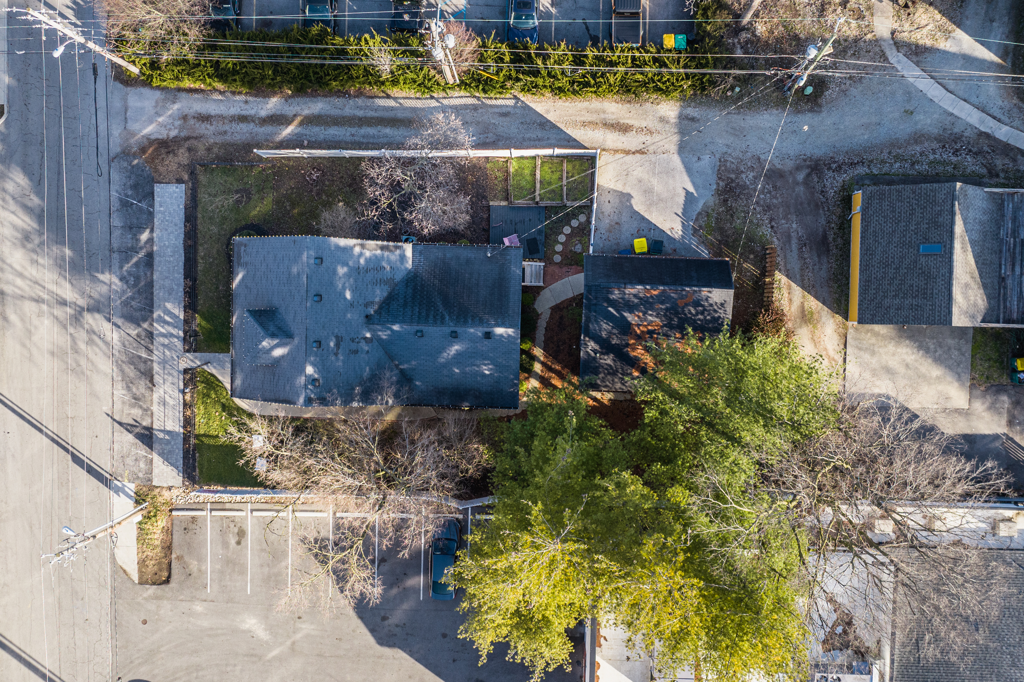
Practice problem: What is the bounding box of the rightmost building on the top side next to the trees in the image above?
[847,183,1023,327]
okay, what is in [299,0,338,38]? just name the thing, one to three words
car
